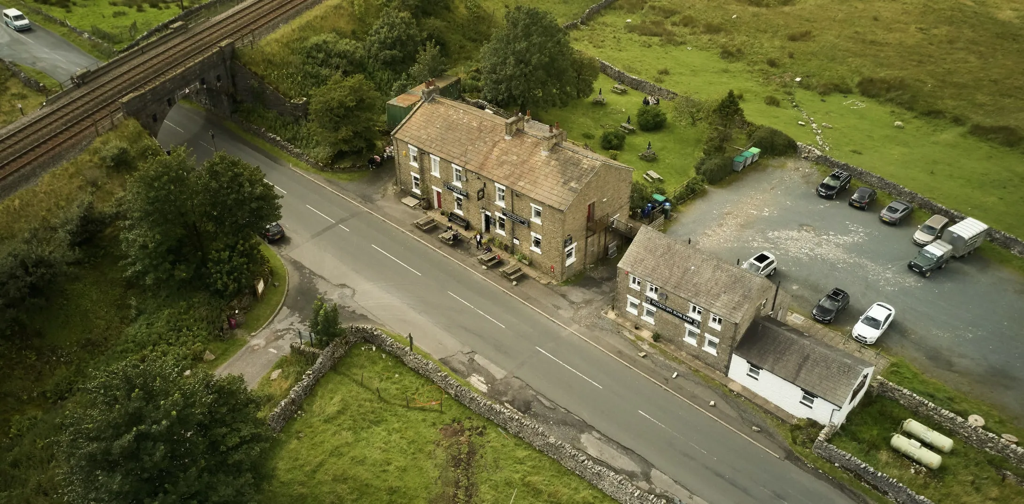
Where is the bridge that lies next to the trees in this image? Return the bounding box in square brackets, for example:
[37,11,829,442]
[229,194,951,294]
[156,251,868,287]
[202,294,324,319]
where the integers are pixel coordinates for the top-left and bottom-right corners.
[47,10,313,175]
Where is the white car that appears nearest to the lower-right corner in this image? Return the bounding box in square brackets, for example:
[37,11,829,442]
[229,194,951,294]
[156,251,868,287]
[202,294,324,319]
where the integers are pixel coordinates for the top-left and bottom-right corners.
[855,302,897,344]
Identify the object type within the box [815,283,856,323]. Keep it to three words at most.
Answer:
car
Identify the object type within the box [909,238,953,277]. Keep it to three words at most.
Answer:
vehicle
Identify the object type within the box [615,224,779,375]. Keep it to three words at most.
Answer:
barn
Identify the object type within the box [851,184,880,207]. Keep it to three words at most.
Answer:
car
